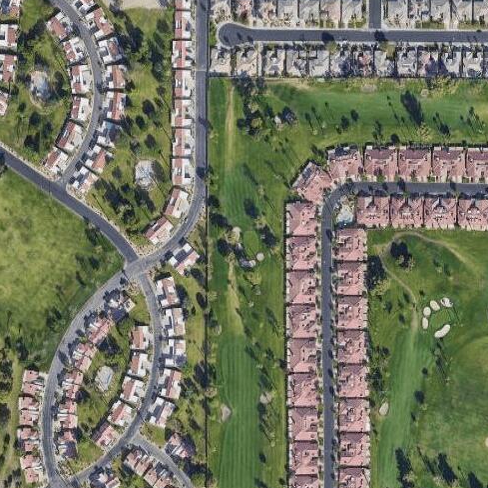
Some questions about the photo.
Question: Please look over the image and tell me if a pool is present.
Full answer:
Yes, the photo shows a pool.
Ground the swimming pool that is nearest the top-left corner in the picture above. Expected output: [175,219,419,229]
[29,69,47,99]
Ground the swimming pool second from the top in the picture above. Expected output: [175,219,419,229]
[135,159,155,189]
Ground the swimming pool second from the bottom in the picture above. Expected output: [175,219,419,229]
[338,204,356,228]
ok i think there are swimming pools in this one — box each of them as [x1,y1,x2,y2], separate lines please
[29,69,47,99]
[95,365,113,390]
[338,204,356,228]
[135,159,155,189]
